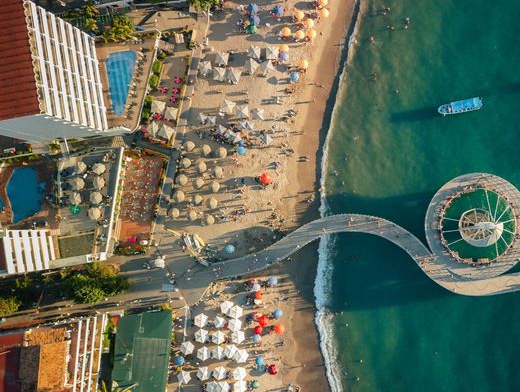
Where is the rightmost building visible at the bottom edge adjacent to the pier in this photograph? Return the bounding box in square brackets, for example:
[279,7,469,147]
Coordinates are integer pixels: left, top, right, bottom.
[111,310,176,392]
